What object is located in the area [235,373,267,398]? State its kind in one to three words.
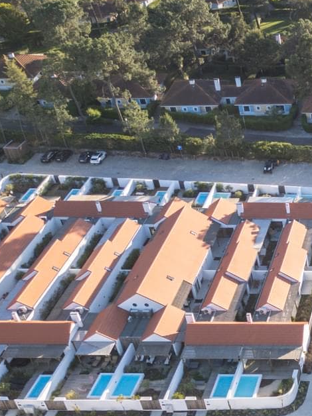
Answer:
swimming pool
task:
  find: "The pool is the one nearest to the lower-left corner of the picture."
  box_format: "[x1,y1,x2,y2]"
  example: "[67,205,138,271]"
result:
[25,373,55,398]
